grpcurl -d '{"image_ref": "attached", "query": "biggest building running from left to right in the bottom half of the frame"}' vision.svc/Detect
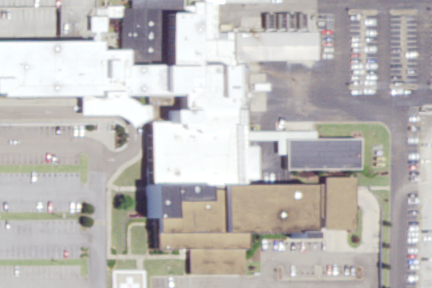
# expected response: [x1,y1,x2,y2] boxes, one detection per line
[142,176,358,274]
